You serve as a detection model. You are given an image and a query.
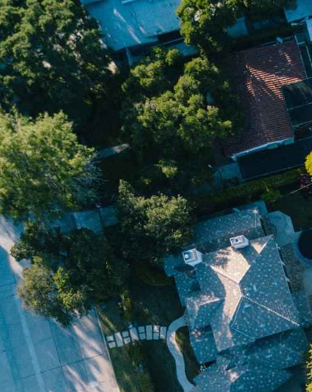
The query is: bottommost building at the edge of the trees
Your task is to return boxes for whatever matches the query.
[164,208,308,392]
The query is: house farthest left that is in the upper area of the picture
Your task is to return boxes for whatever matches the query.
[78,0,188,56]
